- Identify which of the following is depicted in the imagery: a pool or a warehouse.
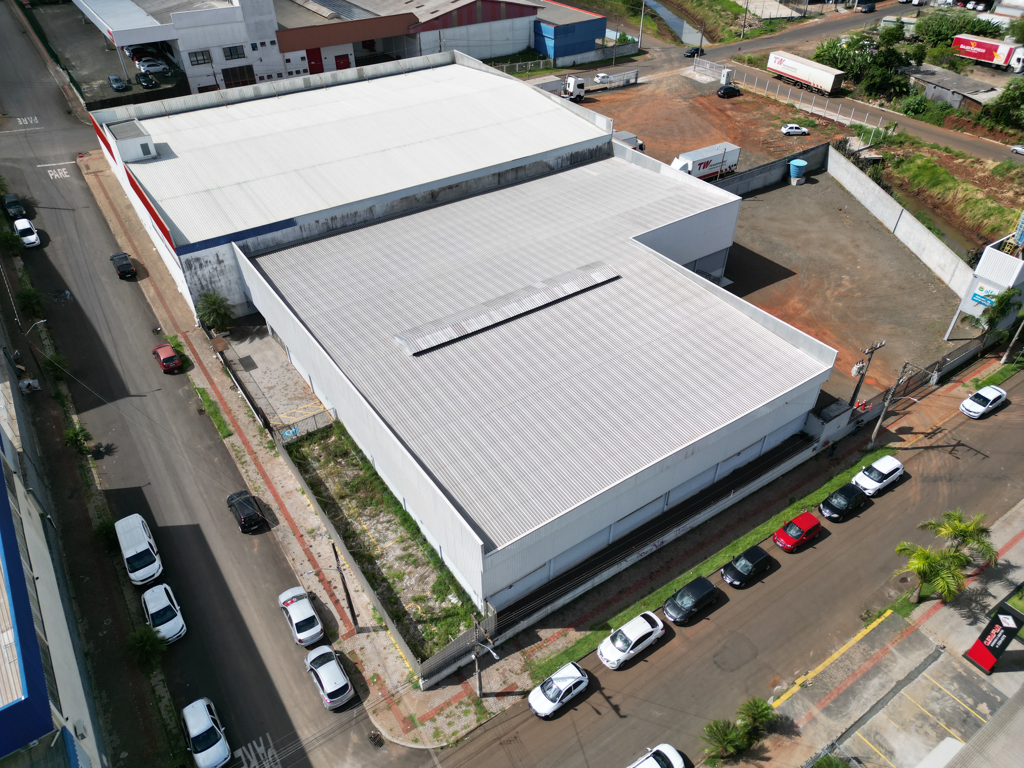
warehouse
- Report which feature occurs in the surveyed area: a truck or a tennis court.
truck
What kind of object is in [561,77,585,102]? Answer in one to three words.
truck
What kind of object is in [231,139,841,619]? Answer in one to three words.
warehouse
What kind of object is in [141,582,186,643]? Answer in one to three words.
car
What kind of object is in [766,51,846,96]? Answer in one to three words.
trailer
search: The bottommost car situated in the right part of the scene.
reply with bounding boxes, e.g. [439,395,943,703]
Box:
[624,740,686,768]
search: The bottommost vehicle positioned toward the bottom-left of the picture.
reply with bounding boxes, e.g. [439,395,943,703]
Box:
[180,695,232,768]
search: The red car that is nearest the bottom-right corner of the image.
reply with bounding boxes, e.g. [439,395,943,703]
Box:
[770,511,825,555]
